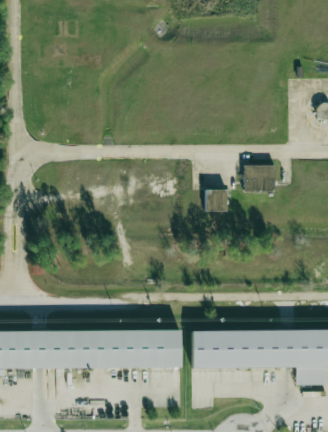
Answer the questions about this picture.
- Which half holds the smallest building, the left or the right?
right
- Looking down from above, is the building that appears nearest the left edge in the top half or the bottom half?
bottom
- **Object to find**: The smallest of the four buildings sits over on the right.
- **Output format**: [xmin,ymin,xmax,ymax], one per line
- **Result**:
[204,190,228,212]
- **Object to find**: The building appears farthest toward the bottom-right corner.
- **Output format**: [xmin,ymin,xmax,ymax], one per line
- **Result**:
[192,330,328,386]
